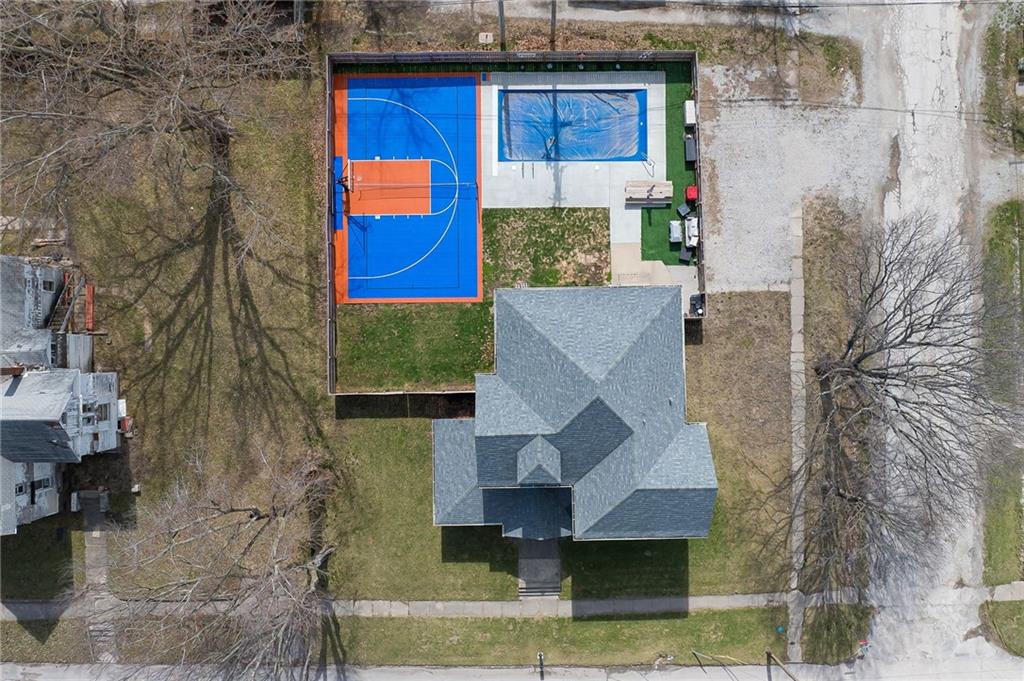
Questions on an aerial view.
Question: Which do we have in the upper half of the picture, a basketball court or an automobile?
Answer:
basketball court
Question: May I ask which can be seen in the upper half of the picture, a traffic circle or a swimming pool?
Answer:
swimming pool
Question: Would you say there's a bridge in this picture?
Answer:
No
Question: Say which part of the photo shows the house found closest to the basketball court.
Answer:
center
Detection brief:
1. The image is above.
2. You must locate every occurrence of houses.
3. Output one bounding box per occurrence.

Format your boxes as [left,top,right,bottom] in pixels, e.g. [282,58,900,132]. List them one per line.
[432,285,718,541]
[0,259,120,537]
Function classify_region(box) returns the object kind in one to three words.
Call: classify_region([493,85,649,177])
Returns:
swimming pool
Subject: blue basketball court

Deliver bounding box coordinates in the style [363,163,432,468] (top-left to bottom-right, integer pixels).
[335,72,483,303]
